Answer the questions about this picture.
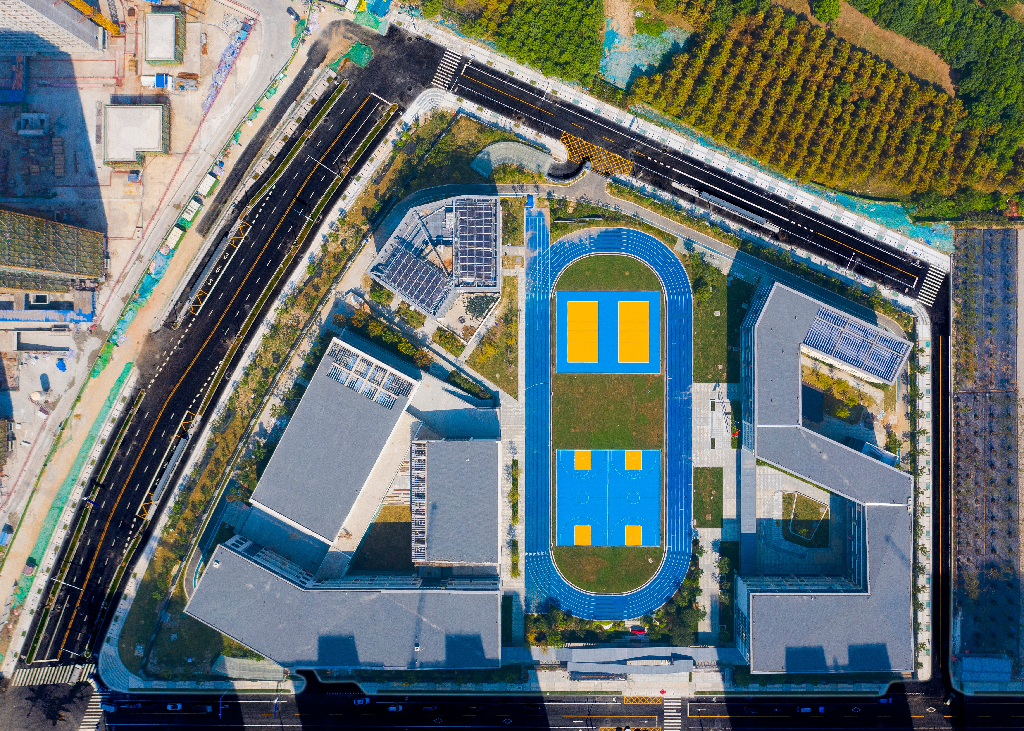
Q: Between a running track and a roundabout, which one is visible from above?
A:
running track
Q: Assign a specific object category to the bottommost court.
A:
basketball court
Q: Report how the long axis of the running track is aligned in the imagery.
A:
from top to bottom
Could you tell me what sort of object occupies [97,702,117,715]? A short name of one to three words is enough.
vehicle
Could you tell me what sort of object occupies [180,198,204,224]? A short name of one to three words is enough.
building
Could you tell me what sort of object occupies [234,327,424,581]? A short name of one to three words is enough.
building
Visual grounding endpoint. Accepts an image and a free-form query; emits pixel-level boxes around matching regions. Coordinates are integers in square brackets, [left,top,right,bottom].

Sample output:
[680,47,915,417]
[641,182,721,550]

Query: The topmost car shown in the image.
[286,4,300,22]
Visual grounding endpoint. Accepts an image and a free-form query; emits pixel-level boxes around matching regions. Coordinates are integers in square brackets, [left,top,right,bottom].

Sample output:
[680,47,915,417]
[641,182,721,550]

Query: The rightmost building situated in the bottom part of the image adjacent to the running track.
[734,282,915,674]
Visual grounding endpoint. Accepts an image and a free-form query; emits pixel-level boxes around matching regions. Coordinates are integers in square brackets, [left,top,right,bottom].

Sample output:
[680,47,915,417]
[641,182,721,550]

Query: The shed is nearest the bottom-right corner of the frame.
[956,652,1013,682]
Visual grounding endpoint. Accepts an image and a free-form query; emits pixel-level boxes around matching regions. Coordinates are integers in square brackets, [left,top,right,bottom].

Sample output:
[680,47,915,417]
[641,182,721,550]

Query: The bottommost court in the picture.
[556,449,661,546]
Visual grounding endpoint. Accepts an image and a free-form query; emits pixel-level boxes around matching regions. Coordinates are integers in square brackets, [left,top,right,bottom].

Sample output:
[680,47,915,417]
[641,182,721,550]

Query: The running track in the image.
[524,207,693,621]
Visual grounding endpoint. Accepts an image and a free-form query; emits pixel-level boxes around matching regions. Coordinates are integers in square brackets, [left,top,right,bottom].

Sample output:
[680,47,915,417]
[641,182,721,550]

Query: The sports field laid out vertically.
[552,255,665,593]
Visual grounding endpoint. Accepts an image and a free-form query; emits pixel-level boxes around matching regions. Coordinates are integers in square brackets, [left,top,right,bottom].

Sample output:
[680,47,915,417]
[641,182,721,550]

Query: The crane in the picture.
[61,0,123,40]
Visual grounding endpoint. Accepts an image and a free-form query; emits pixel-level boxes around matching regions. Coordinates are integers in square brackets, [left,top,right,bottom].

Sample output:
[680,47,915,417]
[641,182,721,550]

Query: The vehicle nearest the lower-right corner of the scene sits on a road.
[943,692,957,707]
